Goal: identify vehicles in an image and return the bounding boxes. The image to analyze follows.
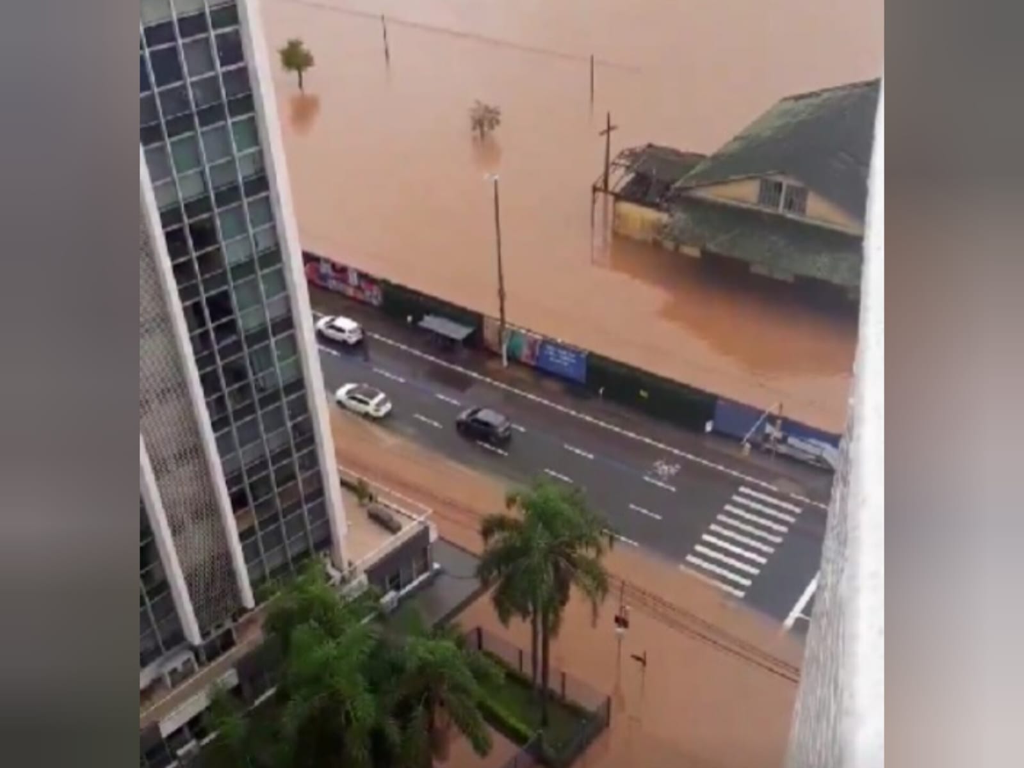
[313,315,364,345]
[458,406,519,442]
[336,384,393,419]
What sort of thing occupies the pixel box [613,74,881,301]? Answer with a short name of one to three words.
warehouse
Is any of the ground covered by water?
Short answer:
Yes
